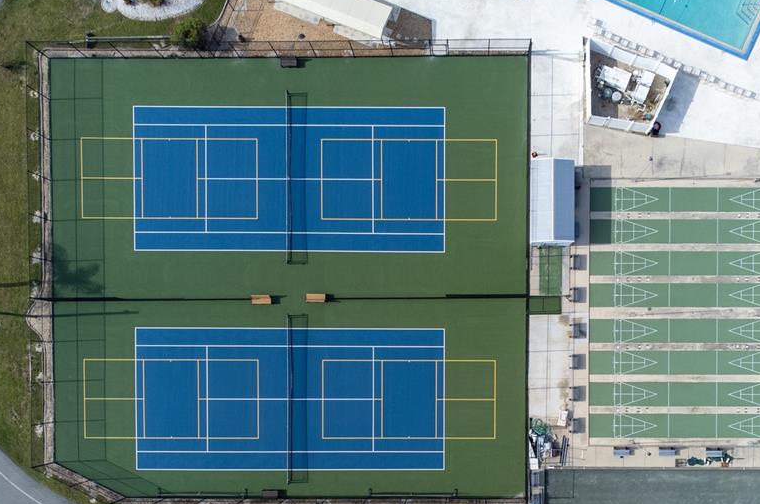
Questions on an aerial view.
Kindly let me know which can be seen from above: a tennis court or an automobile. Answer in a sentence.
Of the two, only a tennis court appears.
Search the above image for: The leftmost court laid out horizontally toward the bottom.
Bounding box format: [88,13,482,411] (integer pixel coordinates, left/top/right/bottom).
[52,297,526,500]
